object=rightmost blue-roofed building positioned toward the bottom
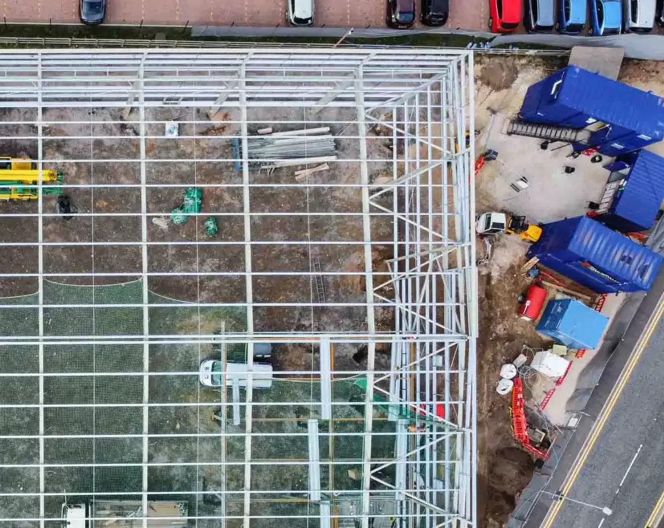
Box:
[536,300,610,349]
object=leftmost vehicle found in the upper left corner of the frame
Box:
[80,0,105,25]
